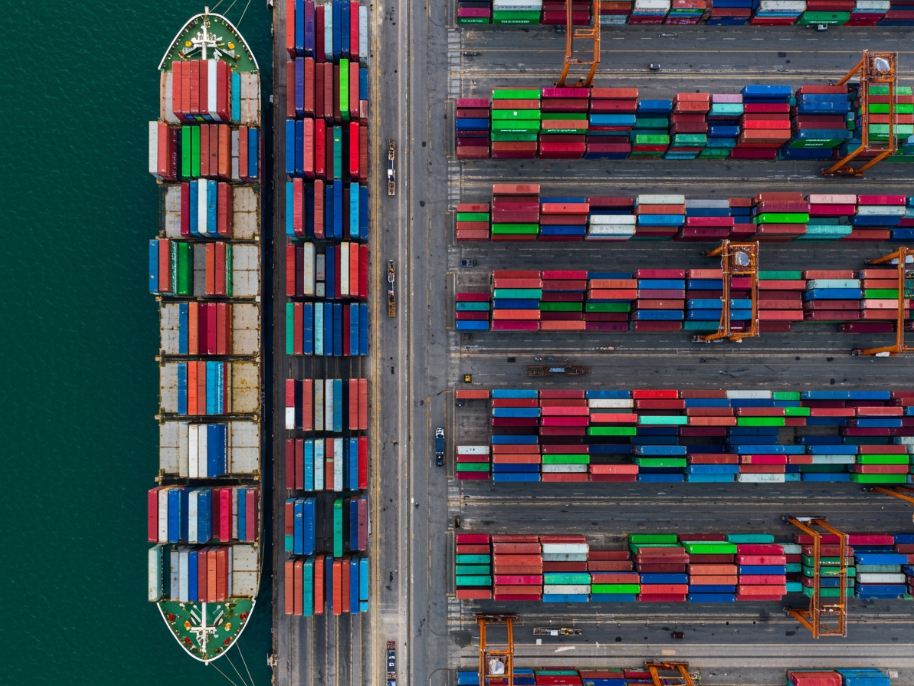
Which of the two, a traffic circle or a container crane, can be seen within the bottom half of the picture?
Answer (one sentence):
The feature located within the bottom half of the picture is a container crane.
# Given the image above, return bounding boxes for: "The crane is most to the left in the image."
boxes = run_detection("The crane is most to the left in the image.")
[473,614,516,686]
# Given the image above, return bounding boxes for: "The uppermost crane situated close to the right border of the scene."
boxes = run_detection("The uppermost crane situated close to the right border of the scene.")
[823,50,901,173]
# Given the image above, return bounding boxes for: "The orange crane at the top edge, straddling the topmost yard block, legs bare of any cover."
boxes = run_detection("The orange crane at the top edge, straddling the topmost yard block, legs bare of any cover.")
[553,0,603,86]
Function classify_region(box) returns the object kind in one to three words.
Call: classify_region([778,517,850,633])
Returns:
container crane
